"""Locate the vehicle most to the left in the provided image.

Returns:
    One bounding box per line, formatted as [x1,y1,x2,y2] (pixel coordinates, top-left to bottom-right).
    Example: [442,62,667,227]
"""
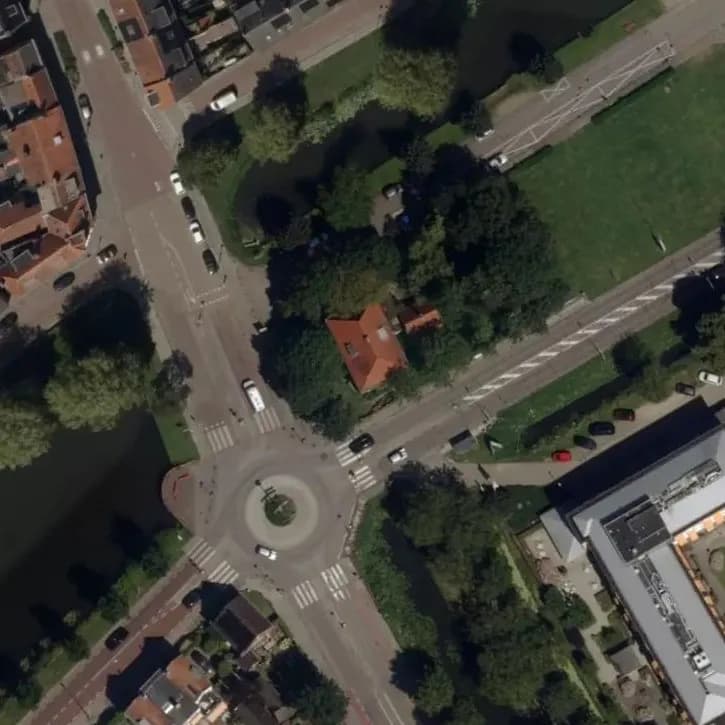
[0,311,21,331]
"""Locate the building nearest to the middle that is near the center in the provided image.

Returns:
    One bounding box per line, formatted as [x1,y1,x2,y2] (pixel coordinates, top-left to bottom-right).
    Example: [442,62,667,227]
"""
[326,307,407,394]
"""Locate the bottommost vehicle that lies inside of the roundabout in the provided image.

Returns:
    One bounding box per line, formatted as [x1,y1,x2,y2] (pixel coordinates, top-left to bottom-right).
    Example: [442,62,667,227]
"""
[253,543,278,561]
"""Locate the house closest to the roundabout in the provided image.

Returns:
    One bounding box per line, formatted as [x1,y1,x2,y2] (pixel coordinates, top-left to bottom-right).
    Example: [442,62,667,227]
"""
[215,593,272,654]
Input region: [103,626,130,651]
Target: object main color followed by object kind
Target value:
black car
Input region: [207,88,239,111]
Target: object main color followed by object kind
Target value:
white vehicle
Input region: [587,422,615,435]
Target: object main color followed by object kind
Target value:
black vehicle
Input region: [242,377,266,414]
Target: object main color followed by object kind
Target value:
white vehicle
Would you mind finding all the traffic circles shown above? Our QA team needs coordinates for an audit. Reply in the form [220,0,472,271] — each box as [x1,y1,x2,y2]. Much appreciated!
[207,437,355,585]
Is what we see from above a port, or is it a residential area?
residential area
